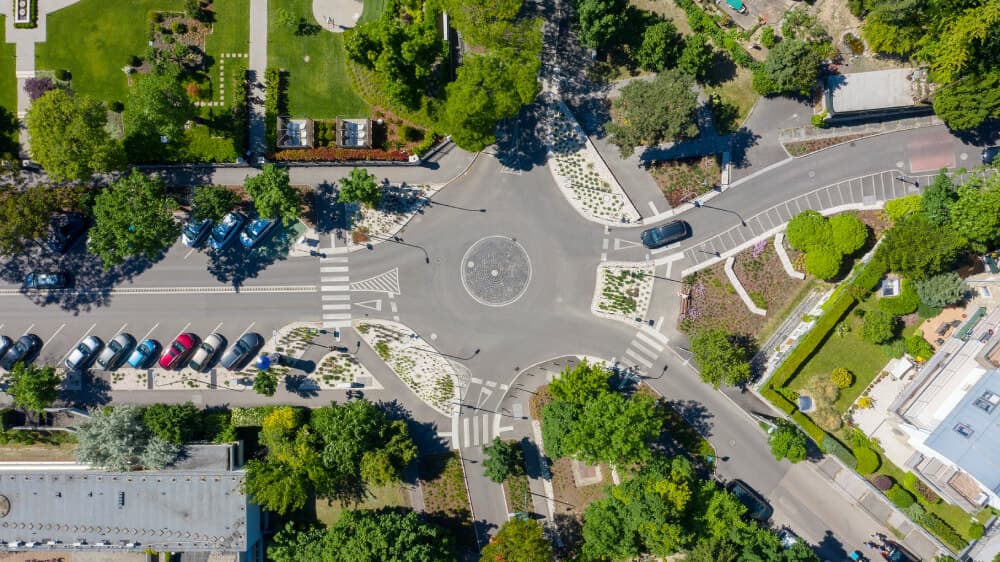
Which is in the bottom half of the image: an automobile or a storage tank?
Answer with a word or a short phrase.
automobile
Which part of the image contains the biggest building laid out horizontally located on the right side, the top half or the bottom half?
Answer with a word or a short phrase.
top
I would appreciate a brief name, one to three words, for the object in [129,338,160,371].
car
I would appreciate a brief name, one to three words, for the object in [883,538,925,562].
car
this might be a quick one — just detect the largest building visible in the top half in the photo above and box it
[818,68,918,117]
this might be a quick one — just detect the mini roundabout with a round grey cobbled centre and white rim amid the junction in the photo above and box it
[398,156,627,387]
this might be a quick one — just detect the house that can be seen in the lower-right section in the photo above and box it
[886,305,1000,522]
